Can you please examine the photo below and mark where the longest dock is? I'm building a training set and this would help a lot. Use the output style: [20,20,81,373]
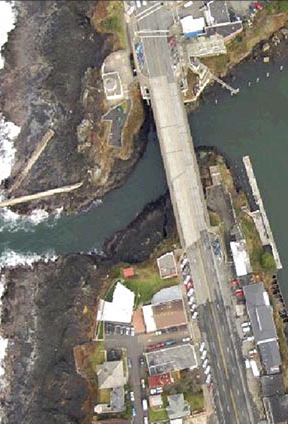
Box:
[244,155,282,269]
